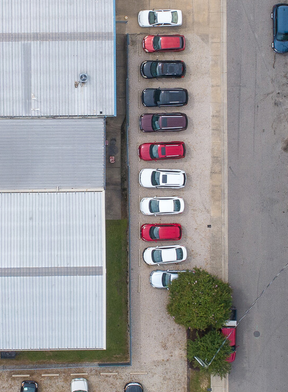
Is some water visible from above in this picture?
No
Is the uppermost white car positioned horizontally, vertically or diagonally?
horizontally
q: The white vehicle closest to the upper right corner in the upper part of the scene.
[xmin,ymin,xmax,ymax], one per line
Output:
[138,7,183,27]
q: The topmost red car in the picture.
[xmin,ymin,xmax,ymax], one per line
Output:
[142,34,185,53]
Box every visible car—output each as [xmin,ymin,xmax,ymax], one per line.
[149,270,193,291]
[142,34,185,53]
[140,111,187,132]
[140,223,182,243]
[141,86,188,107]
[124,381,144,392]
[138,7,183,27]
[20,380,39,392]
[139,168,186,189]
[138,141,186,161]
[140,197,184,216]
[270,3,288,53]
[143,245,187,266]
[140,59,186,79]
[70,376,88,392]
